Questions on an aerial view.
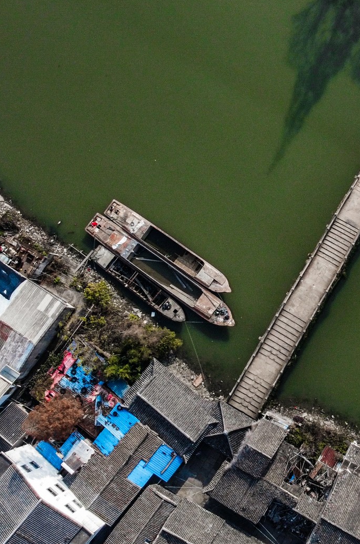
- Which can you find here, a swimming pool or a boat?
boat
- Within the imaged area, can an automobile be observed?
No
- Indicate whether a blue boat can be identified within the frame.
No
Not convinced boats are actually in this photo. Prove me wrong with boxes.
[91,245,187,323]
[103,196,234,295]
[84,212,236,329]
